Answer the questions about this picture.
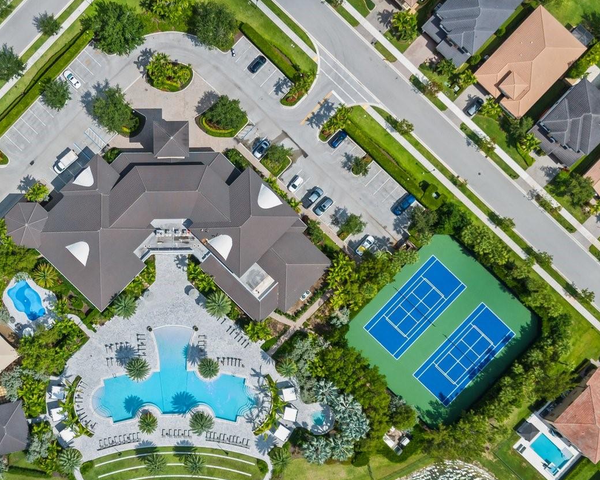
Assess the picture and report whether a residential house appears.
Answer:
Yes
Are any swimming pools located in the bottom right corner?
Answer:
Yes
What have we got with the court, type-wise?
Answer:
tennis court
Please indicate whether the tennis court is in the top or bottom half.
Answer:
bottom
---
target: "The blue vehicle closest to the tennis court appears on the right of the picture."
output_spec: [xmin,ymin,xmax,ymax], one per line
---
[393,193,417,216]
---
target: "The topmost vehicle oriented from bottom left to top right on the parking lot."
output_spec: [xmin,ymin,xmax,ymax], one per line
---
[248,54,267,74]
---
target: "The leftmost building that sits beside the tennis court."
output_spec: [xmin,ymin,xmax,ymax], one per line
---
[5,121,331,321]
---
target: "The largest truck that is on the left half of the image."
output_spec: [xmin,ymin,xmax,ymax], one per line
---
[54,145,78,173]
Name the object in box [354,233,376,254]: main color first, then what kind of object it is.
white vehicle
